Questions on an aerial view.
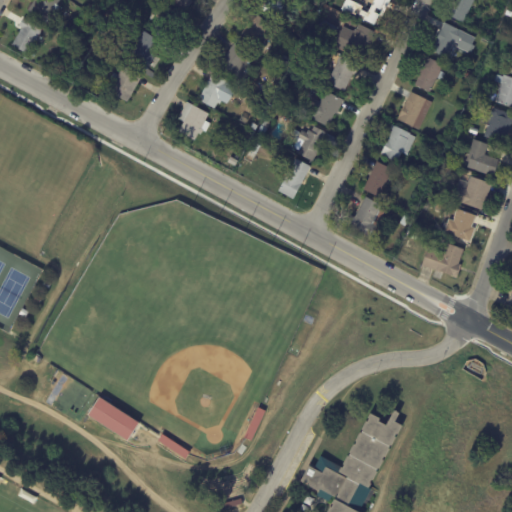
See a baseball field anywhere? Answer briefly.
Yes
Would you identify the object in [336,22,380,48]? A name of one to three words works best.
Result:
house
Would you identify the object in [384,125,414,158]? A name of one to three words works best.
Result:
house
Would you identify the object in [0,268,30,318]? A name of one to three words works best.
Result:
tennis court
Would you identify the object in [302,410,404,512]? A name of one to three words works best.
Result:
building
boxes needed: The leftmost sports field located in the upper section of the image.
[0,92,98,258]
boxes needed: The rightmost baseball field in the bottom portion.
[40,200,326,460]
